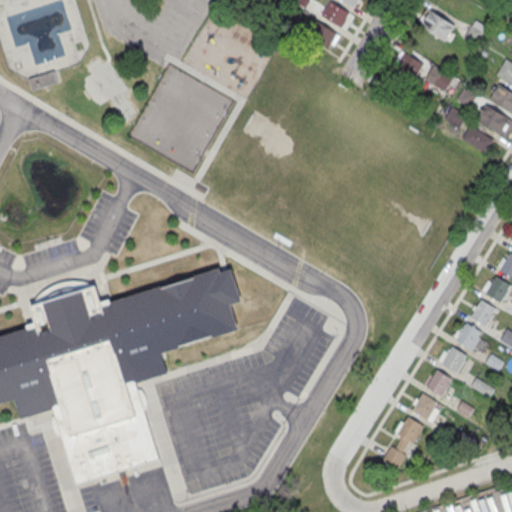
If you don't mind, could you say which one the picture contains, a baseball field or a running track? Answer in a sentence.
There is a baseball field in the scene.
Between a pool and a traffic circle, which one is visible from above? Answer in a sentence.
There is a pool in the scene.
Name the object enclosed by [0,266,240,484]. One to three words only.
building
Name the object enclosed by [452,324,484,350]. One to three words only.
house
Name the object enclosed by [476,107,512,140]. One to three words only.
house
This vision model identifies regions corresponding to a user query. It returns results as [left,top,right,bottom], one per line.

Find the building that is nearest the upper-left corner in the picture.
[30,70,60,90]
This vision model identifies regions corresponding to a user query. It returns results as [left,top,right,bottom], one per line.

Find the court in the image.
[133,66,233,170]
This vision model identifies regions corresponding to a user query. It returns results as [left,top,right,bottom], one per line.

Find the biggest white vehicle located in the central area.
[274,233,292,247]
